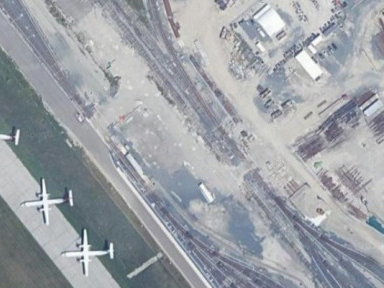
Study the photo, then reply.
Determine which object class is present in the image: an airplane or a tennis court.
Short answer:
airplane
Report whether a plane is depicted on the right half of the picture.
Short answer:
No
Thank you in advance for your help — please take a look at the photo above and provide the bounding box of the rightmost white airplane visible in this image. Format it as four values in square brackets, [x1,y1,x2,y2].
[61,230,113,277]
